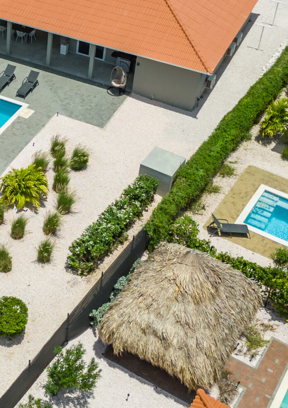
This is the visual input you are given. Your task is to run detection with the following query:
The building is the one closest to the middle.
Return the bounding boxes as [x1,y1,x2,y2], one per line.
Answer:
[140,148,187,197]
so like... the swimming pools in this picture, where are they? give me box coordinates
[236,184,288,243]
[262,364,288,408]
[0,97,27,134]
